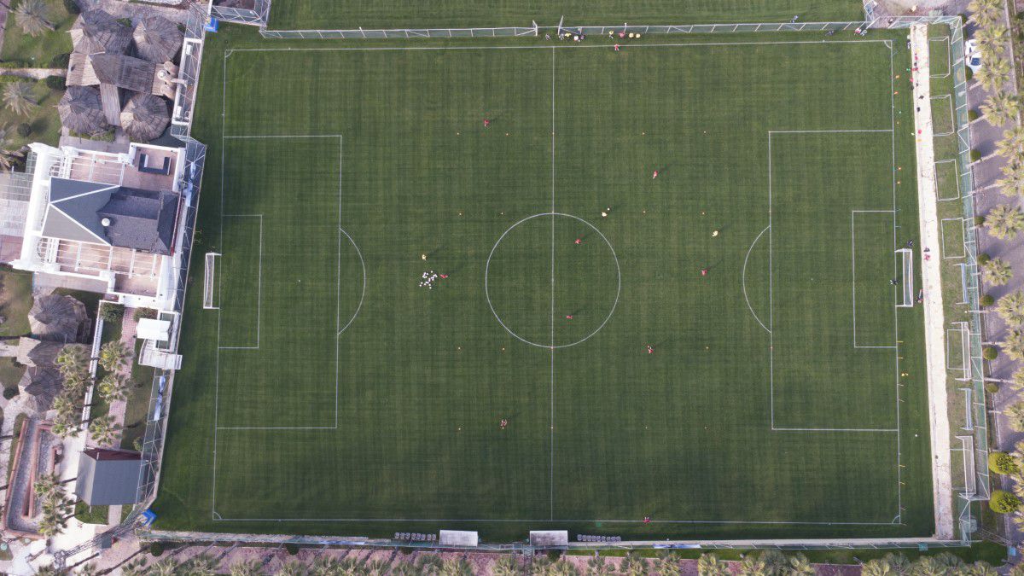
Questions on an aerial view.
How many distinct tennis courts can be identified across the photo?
0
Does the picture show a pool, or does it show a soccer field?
soccer field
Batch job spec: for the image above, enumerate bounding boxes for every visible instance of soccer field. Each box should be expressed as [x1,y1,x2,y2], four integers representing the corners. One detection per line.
[267,0,864,37]
[147,21,935,544]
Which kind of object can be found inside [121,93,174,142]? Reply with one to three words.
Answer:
shed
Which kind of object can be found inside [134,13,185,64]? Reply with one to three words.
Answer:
shed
